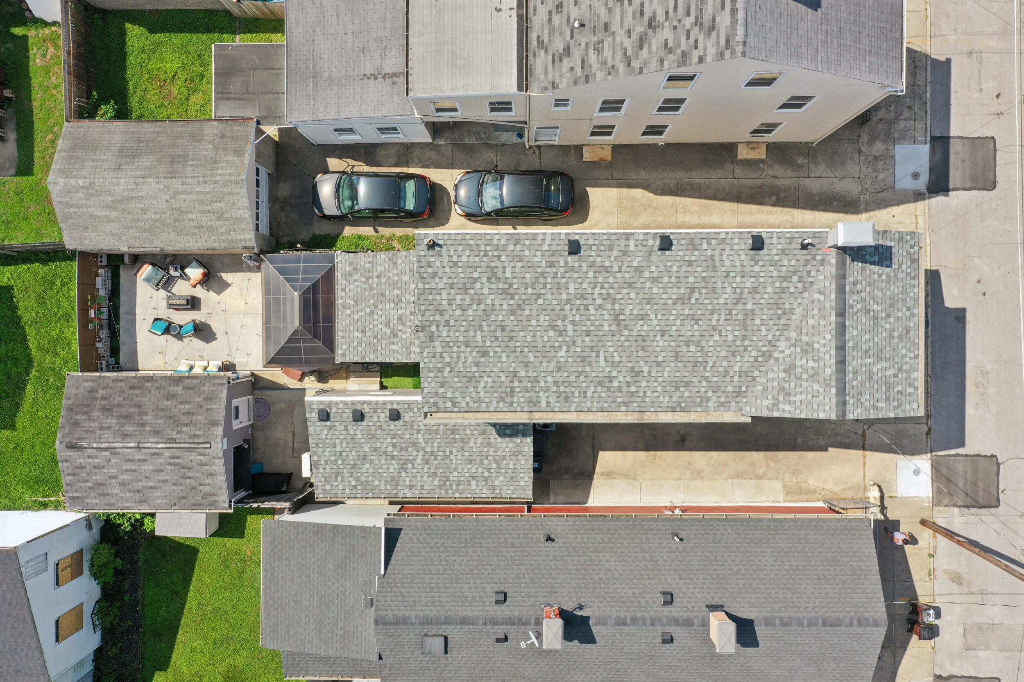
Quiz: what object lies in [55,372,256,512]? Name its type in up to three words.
building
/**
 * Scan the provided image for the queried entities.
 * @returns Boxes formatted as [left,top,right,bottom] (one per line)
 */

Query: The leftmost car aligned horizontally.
[311,165,433,223]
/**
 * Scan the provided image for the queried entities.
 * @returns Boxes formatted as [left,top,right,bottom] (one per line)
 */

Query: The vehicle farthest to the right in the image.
[453,164,574,222]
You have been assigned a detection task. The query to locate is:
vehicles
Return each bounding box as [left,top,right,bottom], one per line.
[311,165,433,223]
[453,164,574,222]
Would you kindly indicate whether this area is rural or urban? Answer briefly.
urban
